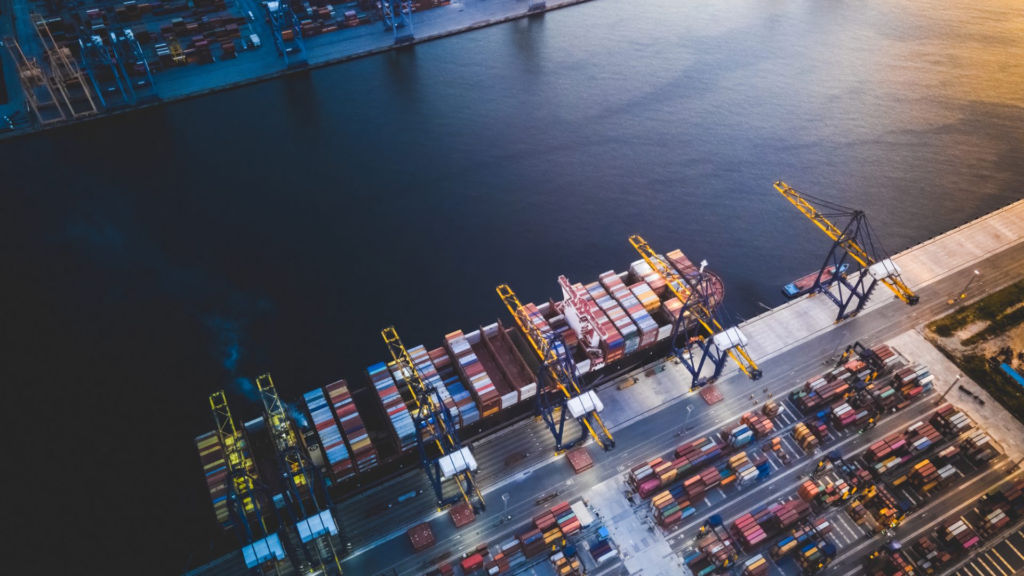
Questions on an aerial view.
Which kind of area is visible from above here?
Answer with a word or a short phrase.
port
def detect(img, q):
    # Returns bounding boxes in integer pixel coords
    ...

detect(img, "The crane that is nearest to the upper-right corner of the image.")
[775,182,919,323]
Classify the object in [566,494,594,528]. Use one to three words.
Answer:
building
